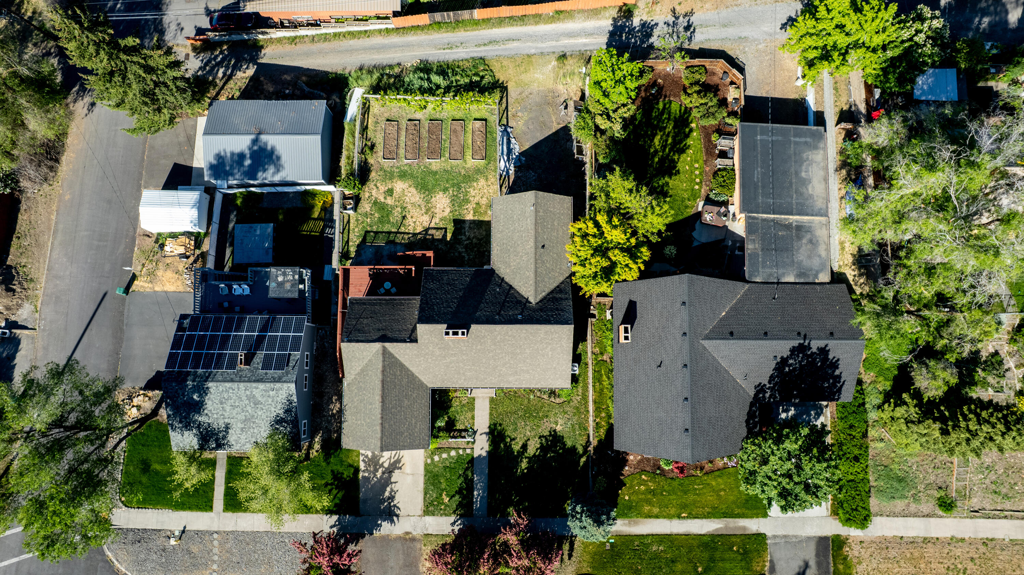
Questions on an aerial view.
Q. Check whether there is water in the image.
No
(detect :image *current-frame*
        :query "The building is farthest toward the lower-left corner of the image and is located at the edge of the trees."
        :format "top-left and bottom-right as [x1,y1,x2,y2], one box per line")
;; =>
[162,312,316,452]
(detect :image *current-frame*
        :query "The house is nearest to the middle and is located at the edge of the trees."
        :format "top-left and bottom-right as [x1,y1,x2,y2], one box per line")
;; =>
[341,191,574,452]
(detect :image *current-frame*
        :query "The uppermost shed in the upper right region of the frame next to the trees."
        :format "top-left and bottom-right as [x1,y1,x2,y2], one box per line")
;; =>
[901,68,958,108]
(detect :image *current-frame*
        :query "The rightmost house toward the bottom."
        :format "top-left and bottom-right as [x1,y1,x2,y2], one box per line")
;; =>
[614,274,865,464]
